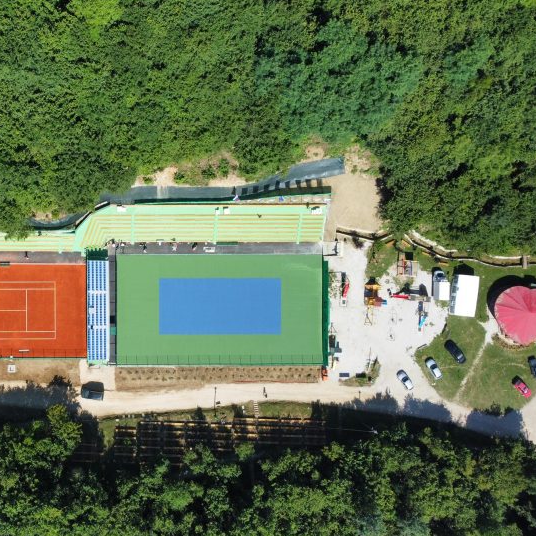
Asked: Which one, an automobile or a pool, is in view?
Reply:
automobile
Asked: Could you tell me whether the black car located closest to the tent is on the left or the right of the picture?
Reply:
right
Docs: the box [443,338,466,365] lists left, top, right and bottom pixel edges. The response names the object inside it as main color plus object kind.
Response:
black car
